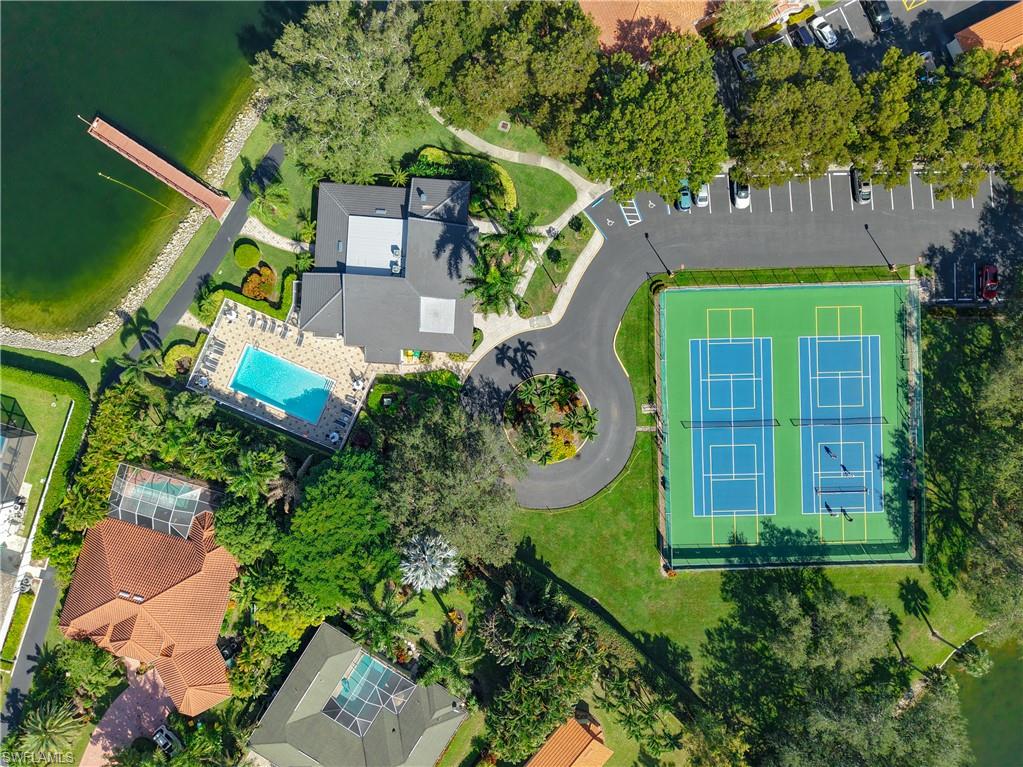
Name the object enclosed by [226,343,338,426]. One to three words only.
swimming pool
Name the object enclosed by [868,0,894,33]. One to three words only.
car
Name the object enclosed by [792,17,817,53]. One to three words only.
car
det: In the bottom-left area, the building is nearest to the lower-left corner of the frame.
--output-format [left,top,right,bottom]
[59,511,240,717]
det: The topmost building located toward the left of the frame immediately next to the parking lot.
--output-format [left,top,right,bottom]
[300,178,476,365]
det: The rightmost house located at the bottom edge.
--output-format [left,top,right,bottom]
[521,708,613,767]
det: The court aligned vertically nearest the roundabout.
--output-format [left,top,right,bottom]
[660,287,790,565]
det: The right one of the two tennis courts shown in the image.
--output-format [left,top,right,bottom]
[786,284,911,562]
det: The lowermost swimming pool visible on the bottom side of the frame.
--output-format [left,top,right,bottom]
[338,652,407,728]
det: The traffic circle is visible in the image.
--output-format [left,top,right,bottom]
[504,373,597,465]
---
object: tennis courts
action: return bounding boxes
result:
[660,287,790,565]
[786,284,911,562]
